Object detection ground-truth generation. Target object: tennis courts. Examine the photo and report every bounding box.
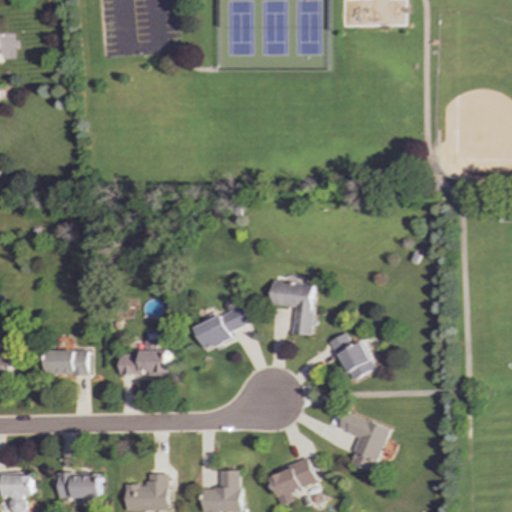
[294,0,325,56]
[260,0,291,56]
[226,0,256,56]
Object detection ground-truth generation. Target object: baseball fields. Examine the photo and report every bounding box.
[432,88,512,178]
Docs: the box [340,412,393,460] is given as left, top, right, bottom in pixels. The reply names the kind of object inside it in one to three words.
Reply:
house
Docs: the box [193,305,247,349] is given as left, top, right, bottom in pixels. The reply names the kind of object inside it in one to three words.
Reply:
house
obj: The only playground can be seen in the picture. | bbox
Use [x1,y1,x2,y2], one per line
[344,0,408,28]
